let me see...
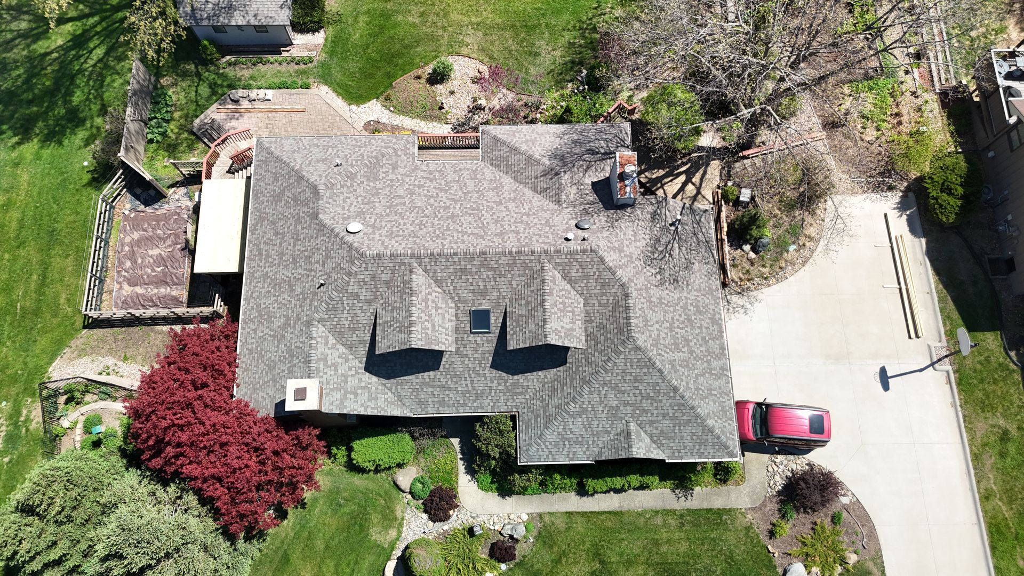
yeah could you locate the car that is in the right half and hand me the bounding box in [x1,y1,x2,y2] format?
[736,395,833,450]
